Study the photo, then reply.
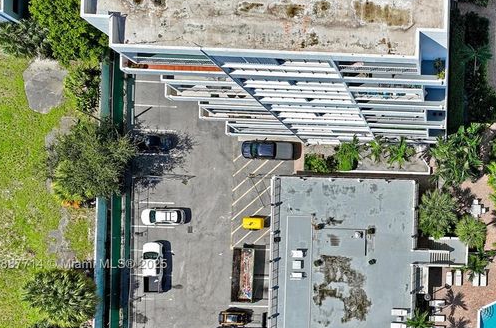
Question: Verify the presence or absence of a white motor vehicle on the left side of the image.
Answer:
Yes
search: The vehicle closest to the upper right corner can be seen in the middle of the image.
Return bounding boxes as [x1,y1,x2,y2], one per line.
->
[240,140,291,160]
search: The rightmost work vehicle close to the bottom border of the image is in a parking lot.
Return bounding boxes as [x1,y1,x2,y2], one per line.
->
[216,308,244,325]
